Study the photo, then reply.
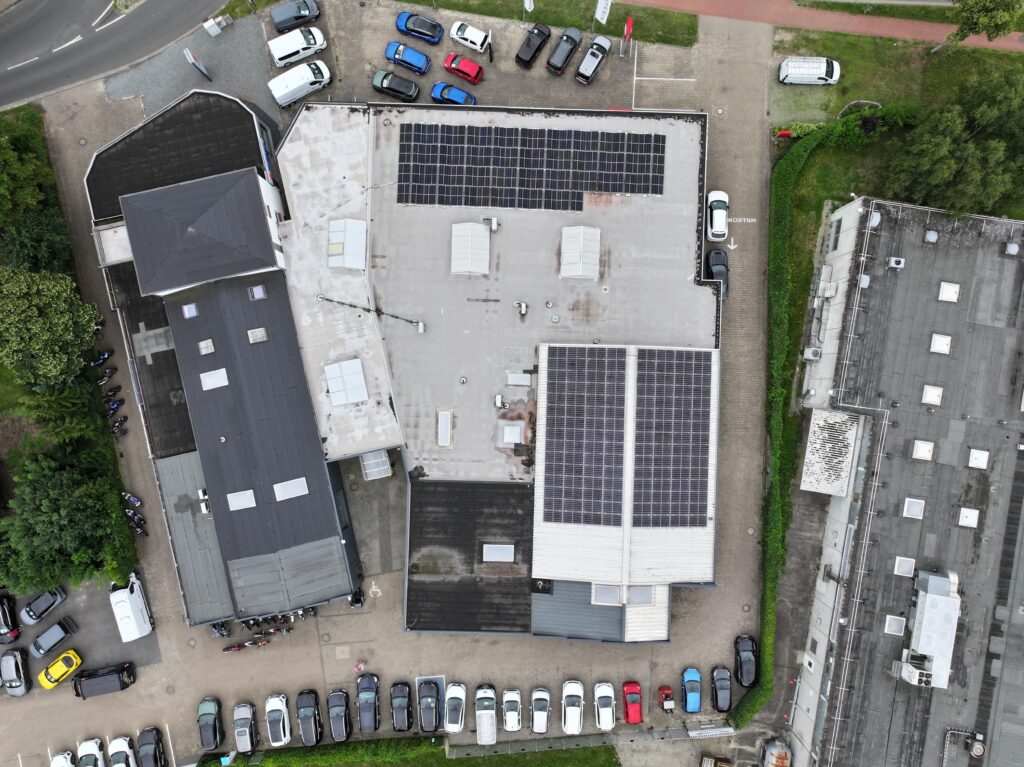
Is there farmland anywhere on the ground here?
No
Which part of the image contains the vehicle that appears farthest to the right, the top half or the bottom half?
top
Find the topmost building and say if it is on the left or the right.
left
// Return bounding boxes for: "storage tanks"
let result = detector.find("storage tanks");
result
[759,733,793,767]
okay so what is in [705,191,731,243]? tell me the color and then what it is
white car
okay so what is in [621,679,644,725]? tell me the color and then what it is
red car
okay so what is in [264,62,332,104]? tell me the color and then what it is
white vehicle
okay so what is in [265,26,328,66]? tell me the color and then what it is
white vehicle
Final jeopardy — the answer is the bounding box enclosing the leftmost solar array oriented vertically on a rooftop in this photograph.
[544,347,626,525]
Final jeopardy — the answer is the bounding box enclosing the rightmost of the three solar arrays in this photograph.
[633,349,712,527]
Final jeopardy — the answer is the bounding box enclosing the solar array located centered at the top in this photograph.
[397,121,665,213]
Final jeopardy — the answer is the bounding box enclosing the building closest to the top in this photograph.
[85,90,288,226]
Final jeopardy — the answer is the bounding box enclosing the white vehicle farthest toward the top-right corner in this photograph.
[778,54,838,85]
